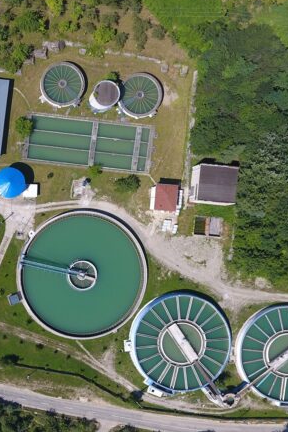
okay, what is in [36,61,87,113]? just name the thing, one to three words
storage tank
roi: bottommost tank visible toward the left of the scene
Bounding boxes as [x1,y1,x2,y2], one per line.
[17,208,148,340]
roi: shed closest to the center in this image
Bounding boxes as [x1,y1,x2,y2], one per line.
[152,184,178,212]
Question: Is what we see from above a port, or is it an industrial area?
industrial area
